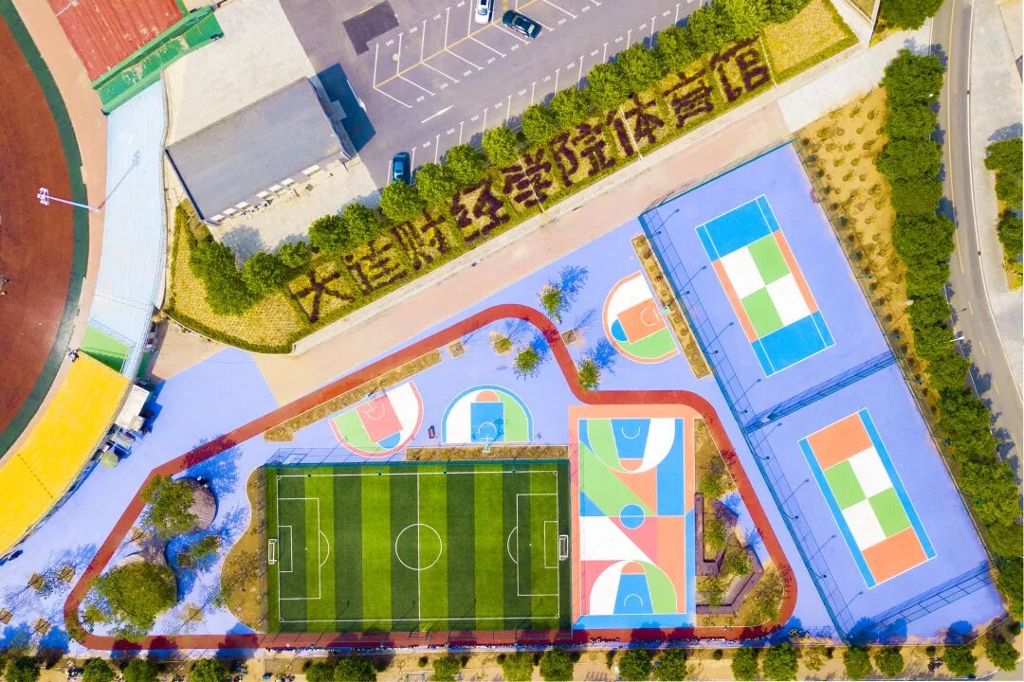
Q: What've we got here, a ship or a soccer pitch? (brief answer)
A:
soccer pitch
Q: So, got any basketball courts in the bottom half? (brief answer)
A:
Yes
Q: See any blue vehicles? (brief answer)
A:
Yes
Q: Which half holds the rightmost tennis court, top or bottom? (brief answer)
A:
bottom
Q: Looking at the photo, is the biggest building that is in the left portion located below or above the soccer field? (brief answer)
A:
above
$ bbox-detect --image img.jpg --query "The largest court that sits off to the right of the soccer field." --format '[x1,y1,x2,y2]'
[570,405,696,627]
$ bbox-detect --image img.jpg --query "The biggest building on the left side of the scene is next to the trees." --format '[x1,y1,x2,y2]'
[164,75,352,225]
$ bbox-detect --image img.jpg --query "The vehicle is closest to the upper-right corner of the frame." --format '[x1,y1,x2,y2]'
[505,10,538,35]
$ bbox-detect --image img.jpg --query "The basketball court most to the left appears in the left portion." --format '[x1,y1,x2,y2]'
[329,381,422,458]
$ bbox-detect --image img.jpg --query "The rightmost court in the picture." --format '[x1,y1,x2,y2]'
[797,408,937,590]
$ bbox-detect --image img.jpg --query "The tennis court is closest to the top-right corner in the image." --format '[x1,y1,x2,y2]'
[696,194,835,377]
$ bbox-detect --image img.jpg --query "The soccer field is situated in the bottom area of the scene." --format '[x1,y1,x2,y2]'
[266,463,572,633]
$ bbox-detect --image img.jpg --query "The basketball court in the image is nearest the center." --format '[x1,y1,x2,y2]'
[441,384,534,443]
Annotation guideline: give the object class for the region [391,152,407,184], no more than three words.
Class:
car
